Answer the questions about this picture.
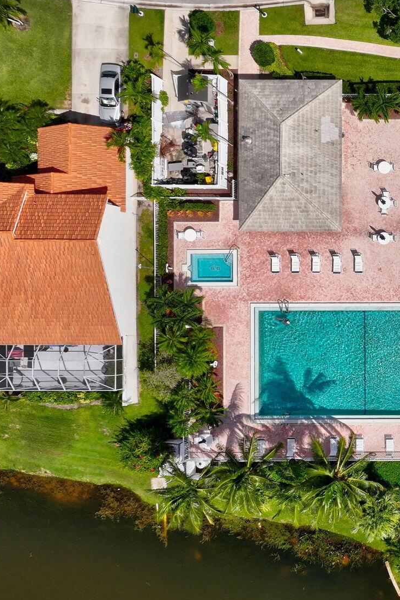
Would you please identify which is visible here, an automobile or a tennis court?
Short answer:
automobile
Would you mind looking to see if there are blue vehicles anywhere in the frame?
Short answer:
No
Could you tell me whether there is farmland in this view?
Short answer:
No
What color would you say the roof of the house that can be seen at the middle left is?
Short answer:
orange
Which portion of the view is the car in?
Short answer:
top left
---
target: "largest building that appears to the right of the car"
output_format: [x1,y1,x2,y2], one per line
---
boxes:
[238,74,343,231]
